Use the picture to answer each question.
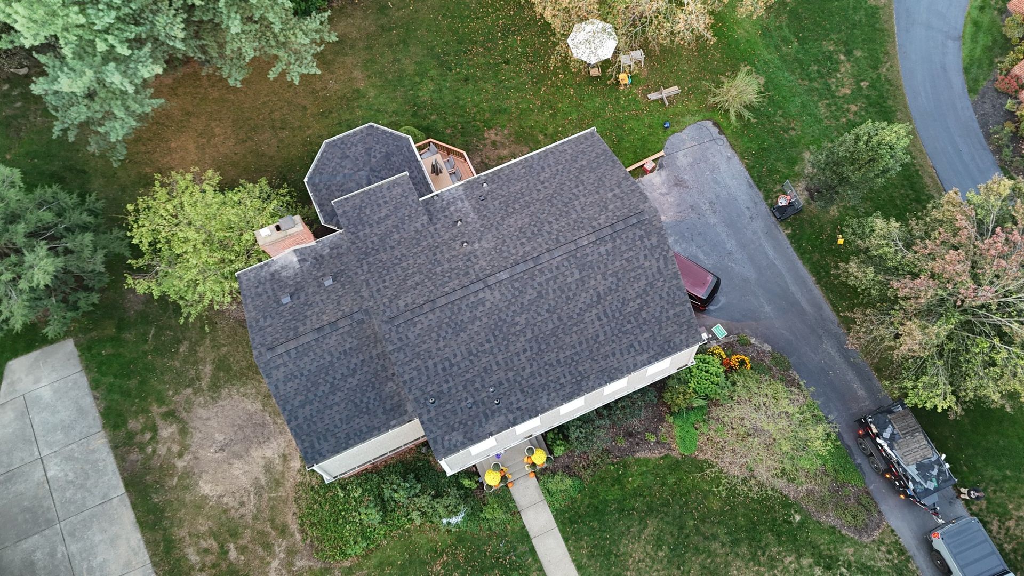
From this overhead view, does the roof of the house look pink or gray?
gray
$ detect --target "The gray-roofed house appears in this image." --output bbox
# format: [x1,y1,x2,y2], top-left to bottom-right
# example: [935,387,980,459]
[232,120,710,484]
